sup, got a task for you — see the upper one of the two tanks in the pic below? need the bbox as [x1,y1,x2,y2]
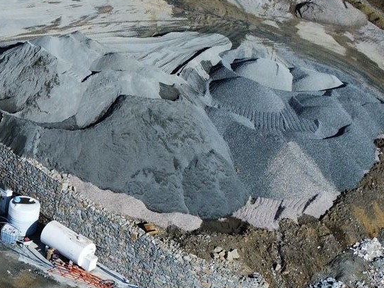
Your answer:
[8,196,39,238]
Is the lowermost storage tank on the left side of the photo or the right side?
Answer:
left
